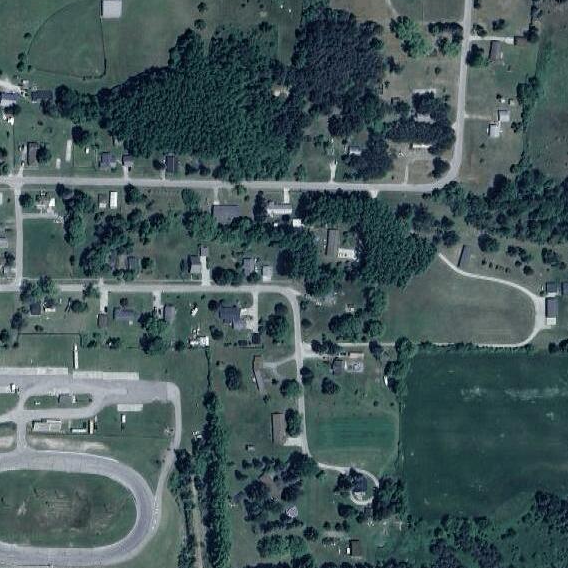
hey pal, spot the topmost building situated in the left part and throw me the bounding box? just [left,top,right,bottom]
[102,0,123,19]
